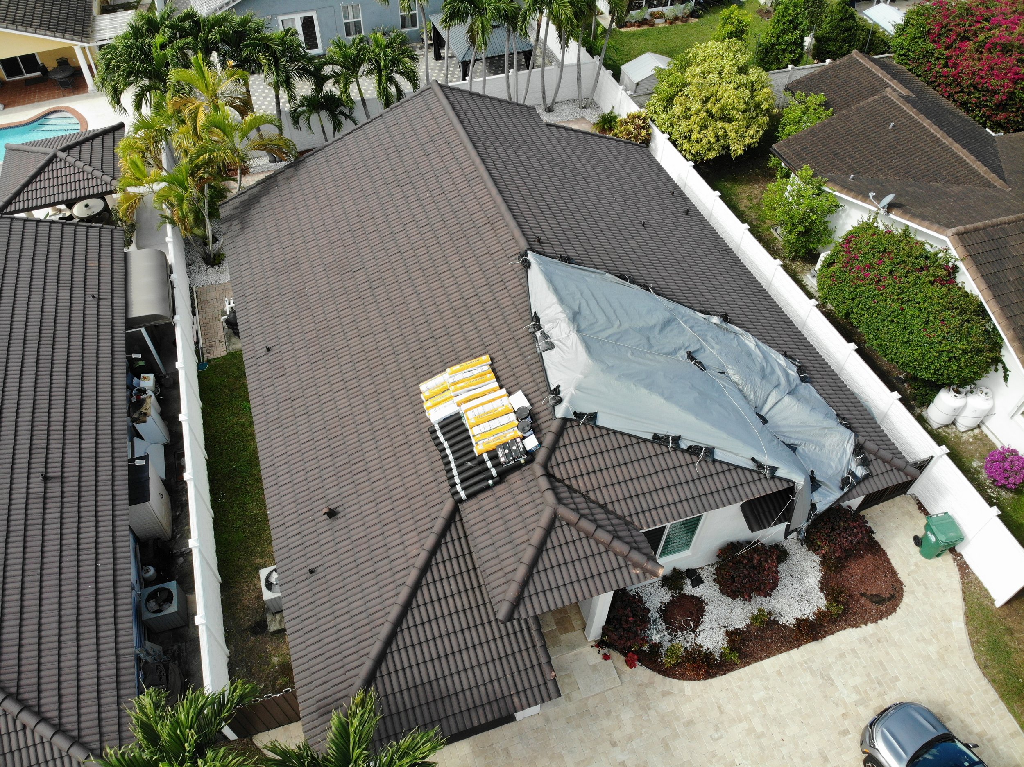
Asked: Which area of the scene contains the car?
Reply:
bottom right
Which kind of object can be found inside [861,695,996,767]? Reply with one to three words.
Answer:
car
